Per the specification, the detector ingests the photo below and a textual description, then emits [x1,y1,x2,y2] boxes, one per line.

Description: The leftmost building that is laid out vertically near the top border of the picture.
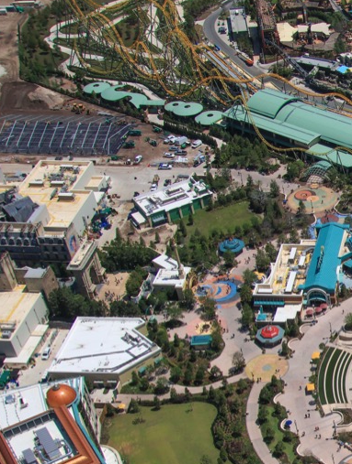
[229,5,250,42]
